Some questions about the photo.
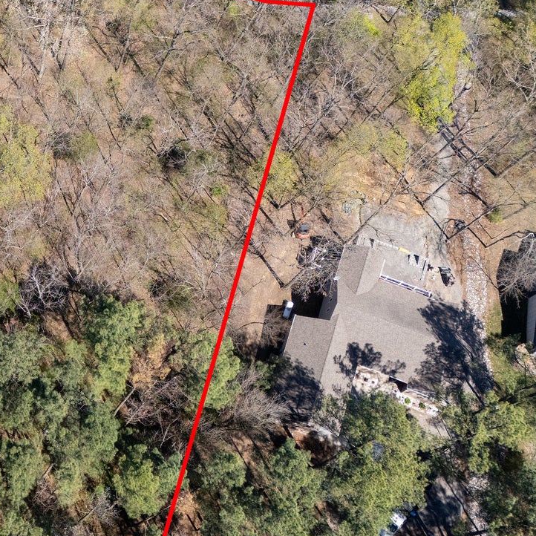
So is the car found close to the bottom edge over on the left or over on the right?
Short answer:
right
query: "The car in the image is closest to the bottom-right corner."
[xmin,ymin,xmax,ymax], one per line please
[375,507,414,536]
